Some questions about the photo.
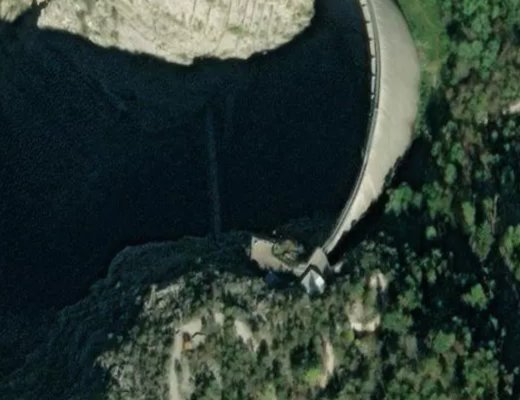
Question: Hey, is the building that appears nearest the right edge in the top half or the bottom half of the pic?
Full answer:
The building that appears nearest the right edge sits in the bottom half of the picture.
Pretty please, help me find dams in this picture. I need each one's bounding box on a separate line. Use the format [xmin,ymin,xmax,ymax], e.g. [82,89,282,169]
[321,0,419,255]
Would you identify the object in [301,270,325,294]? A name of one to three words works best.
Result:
building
